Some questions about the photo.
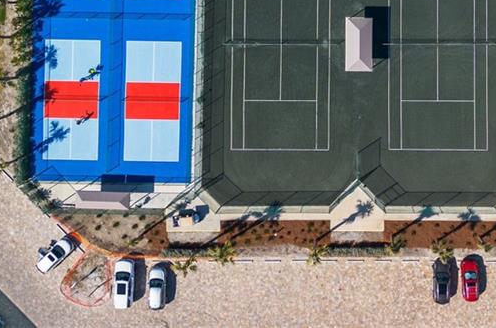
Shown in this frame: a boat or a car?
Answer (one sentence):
Visible in the photo is a car.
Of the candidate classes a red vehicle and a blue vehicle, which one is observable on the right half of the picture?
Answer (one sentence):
The feature located on the right half of the picture is a red vehicle.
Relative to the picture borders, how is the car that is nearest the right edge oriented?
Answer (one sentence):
In this picture, the car that is nearest the right edge is oriented up and down.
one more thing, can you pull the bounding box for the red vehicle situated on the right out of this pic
[459,256,481,300]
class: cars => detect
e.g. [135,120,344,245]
[459,256,481,300]
[432,257,453,303]
[147,262,168,309]
[113,257,137,308]
[35,234,77,274]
